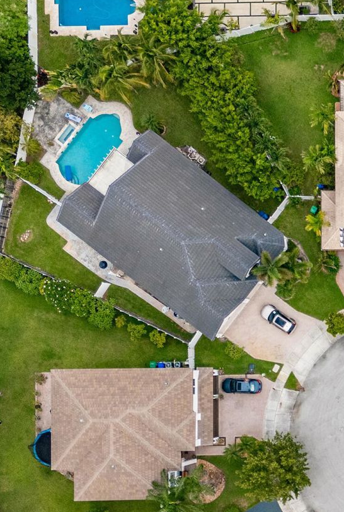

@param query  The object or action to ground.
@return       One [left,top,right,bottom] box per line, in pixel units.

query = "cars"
[260,303,297,334]
[223,377,260,395]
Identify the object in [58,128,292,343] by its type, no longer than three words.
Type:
house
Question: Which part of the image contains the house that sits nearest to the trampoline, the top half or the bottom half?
bottom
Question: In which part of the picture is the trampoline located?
bottom left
